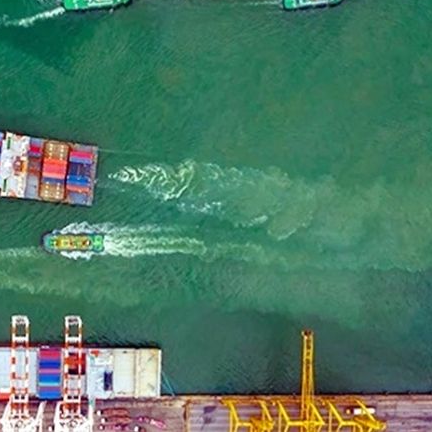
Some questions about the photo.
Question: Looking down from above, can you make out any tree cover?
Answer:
No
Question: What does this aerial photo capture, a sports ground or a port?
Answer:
port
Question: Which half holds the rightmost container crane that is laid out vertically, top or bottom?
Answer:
bottom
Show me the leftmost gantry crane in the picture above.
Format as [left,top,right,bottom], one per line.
[0,313,46,432]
